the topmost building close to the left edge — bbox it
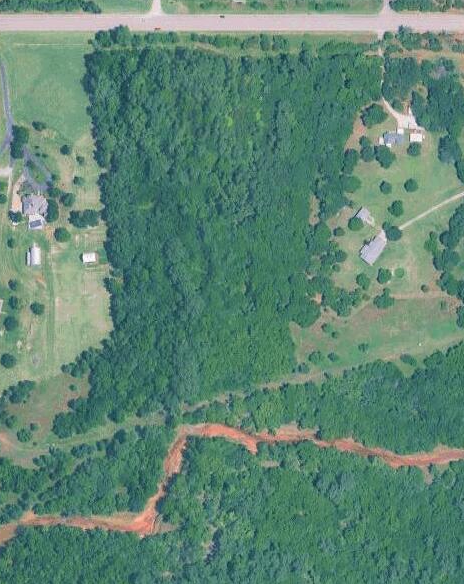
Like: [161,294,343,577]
[22,193,52,229]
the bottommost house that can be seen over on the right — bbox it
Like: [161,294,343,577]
[359,233,389,264]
